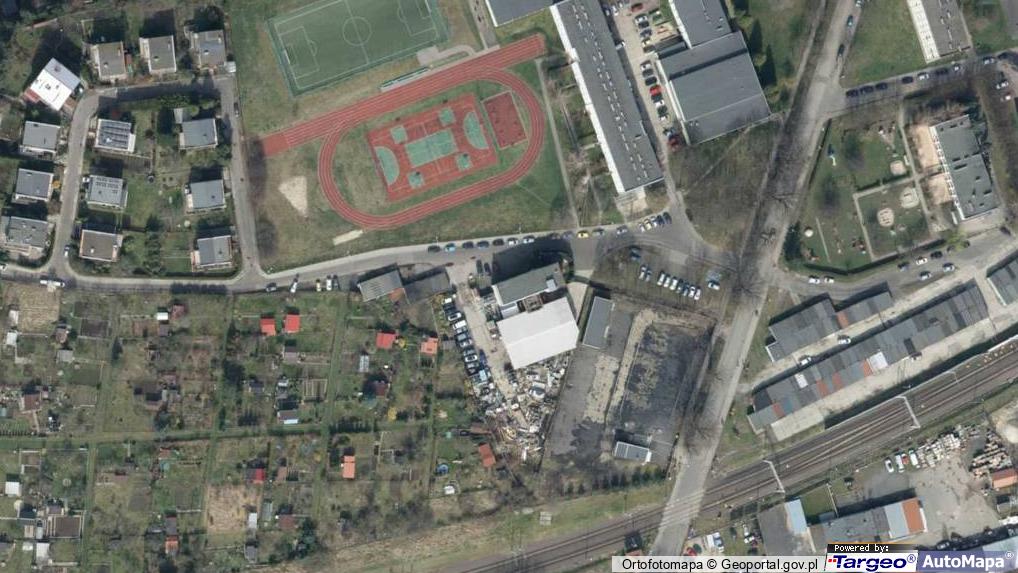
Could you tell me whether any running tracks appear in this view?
Yes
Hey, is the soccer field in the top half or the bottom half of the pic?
top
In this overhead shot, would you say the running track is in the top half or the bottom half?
top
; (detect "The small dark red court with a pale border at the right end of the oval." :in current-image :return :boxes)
[480,91,527,150]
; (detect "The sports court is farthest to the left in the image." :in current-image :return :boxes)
[368,92,499,202]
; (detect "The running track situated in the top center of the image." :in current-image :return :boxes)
[261,35,551,226]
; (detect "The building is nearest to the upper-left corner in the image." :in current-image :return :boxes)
[25,58,81,111]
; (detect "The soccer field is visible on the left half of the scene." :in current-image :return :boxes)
[266,0,448,96]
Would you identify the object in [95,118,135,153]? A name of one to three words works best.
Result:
house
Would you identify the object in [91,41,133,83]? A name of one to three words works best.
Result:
house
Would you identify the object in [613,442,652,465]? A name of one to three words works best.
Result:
shed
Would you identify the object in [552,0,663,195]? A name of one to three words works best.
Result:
building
